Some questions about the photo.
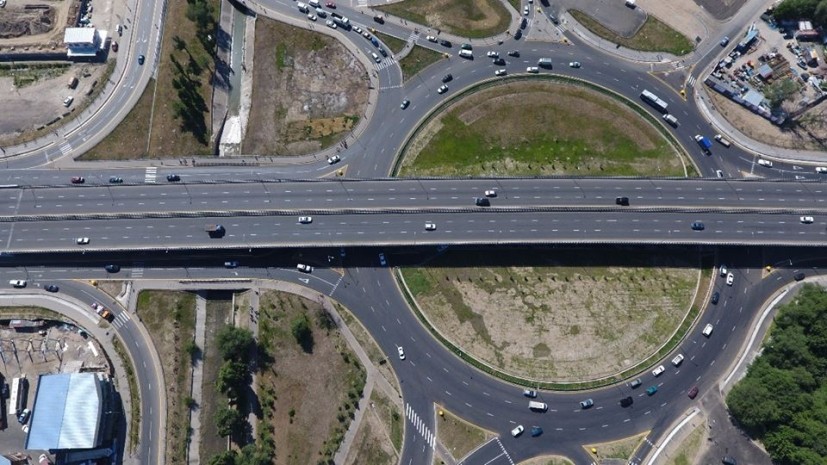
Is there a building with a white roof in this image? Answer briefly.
Yes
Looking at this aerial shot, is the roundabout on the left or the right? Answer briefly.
right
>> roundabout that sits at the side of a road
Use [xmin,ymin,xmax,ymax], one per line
[335,40,761,445]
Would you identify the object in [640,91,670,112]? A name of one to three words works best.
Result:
bus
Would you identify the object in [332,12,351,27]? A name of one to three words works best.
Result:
vehicle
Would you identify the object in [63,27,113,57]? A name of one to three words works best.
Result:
building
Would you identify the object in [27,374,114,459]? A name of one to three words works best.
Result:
building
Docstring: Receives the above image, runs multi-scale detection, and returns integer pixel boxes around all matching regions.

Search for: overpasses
[0,176,827,253]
